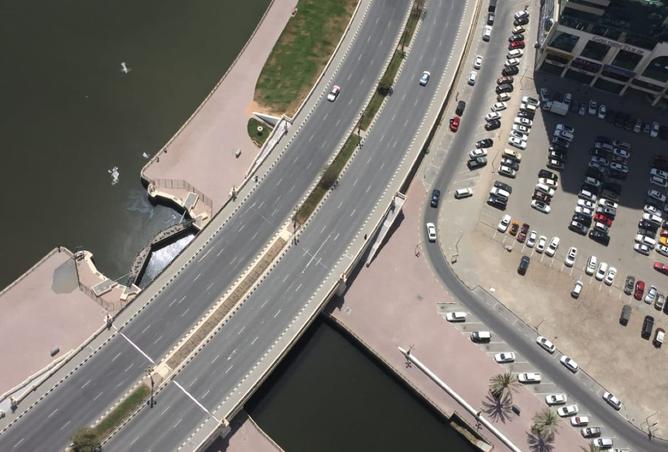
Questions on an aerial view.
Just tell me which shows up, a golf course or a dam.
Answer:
dam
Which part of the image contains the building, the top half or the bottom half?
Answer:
top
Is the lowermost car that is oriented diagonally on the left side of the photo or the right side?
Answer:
right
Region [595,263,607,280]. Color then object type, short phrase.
white vehicle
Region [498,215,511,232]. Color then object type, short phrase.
white vehicle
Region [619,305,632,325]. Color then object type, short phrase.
gray vehicle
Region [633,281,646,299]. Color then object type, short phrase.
red vehicle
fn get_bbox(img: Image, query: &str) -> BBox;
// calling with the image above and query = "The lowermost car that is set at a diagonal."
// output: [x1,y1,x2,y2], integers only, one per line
[601,391,622,411]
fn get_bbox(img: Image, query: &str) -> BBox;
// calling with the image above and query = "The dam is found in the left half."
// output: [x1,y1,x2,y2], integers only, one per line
[129,222,200,286]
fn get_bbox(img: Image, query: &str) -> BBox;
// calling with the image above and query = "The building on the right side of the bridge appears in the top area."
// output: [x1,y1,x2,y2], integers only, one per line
[536,0,668,98]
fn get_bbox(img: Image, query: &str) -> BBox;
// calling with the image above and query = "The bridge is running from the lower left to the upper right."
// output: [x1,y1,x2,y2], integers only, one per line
[0,0,478,452]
